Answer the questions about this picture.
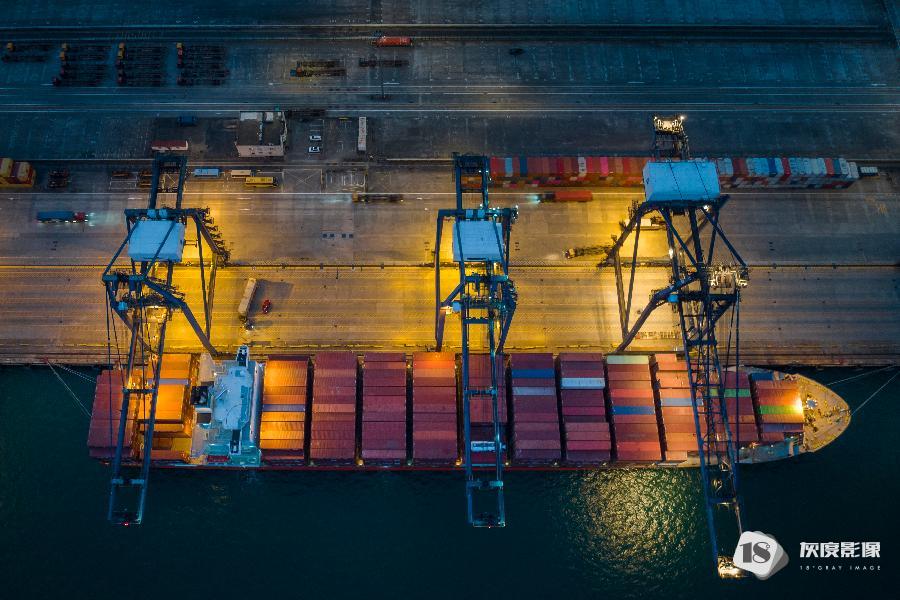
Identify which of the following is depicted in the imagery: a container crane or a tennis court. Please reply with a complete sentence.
Visible in the photo is a container crane.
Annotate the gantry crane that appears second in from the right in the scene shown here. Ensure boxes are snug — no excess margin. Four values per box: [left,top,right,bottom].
[425,156,528,523]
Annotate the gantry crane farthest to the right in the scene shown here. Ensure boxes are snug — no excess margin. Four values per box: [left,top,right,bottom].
[596,117,757,578]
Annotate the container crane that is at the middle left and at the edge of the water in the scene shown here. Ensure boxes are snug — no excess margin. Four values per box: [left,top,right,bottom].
[100,155,235,522]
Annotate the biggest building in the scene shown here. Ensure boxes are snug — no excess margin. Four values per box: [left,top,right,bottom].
[234,112,291,157]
